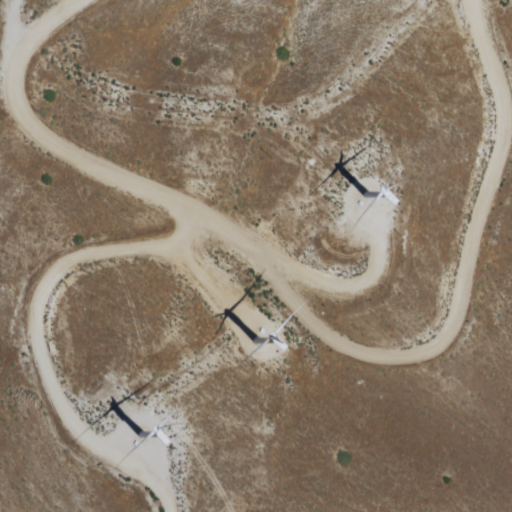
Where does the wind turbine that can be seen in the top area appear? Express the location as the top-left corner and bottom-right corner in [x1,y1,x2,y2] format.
[346,166,408,224]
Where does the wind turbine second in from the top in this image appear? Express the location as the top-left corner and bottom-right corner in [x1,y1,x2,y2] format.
[237,295,300,356]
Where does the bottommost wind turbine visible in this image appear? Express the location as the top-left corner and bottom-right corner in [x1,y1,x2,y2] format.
[115,400,174,462]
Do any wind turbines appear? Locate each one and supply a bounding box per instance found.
[237,295,300,356]
[346,166,408,224]
[115,400,174,462]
